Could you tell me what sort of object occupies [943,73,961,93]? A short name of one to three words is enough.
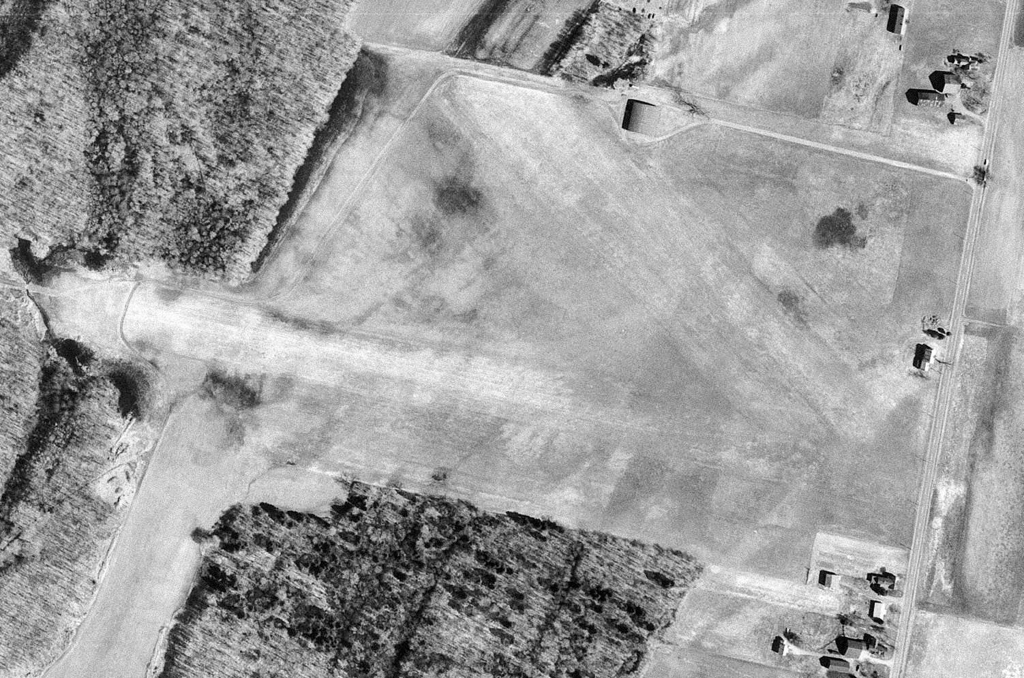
barn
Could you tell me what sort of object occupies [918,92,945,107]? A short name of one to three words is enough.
barn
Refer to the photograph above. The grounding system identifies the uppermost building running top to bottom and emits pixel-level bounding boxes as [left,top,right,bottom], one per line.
[896,6,911,34]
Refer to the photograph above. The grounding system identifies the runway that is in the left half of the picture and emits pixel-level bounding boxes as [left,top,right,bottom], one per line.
[136,296,583,418]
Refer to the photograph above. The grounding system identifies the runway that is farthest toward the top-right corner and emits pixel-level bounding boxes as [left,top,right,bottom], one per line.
[461,73,868,435]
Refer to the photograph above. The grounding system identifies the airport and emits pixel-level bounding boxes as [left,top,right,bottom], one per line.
[136,73,868,435]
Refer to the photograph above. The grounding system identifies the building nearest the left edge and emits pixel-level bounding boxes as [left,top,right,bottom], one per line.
[627,101,661,136]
